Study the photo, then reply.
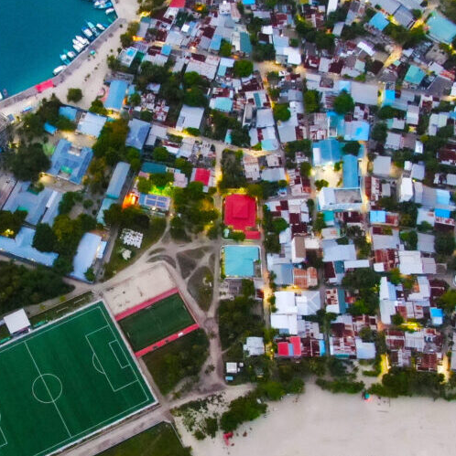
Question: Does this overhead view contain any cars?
No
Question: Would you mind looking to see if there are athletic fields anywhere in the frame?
Yes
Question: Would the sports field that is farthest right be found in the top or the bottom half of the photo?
bottom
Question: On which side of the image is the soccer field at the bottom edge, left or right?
left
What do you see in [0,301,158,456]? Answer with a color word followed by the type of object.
green soccer field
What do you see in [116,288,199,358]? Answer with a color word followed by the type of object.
green sports field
